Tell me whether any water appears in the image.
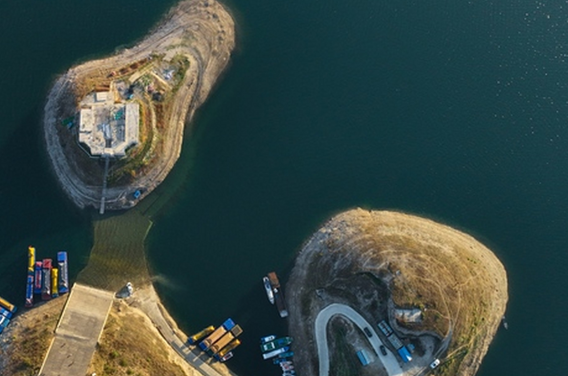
Yes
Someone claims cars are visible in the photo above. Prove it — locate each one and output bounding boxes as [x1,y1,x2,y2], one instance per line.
[364,328,373,339]
[380,346,387,356]
[430,359,440,370]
